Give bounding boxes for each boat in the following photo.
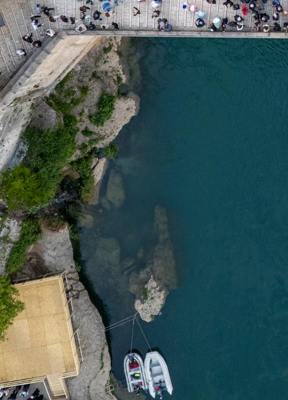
[124,351,148,395]
[143,350,174,400]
